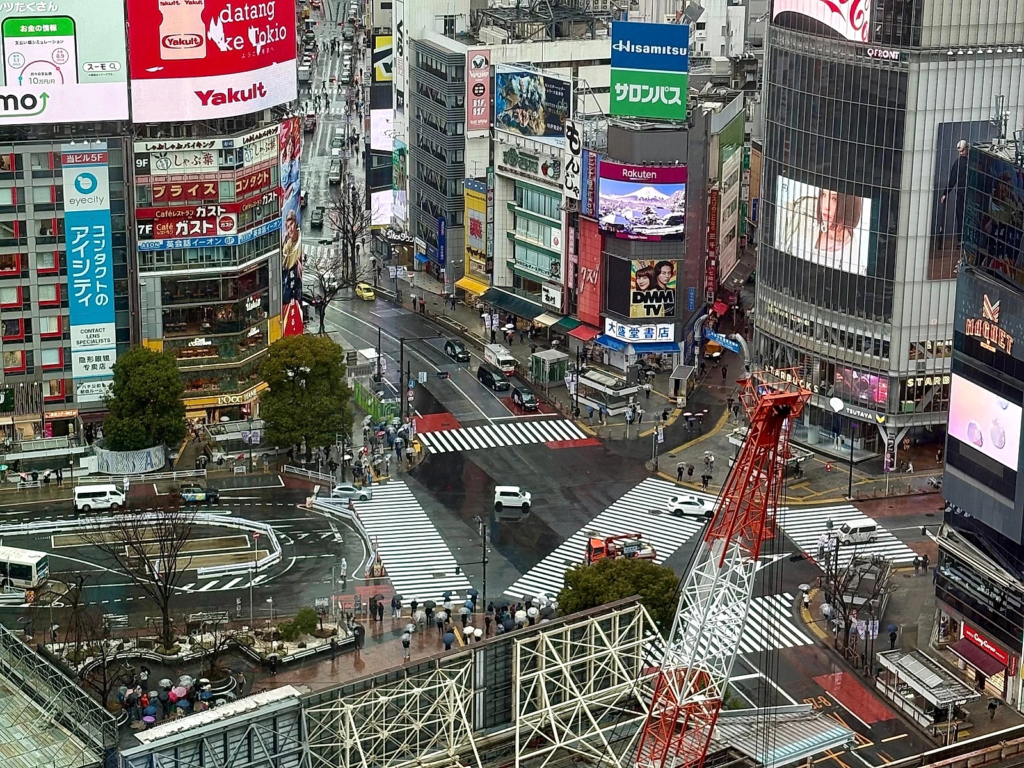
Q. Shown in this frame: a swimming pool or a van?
van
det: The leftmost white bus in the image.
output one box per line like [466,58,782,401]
[0,541,51,589]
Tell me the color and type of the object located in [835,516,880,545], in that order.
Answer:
white van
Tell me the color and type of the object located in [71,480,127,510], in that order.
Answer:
white van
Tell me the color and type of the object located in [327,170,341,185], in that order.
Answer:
gray car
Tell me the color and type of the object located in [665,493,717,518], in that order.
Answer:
white car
